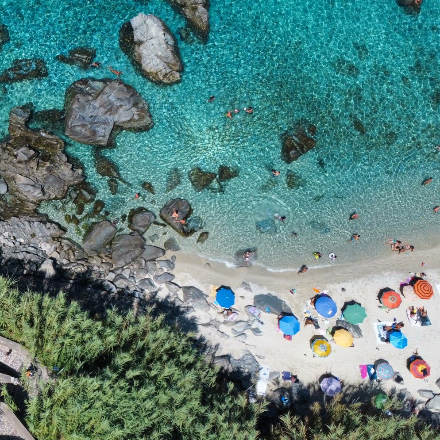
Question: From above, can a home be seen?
No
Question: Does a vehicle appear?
No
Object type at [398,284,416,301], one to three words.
umbrella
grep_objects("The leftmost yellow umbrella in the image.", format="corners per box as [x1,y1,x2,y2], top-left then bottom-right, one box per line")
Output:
[311,338,329,357]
